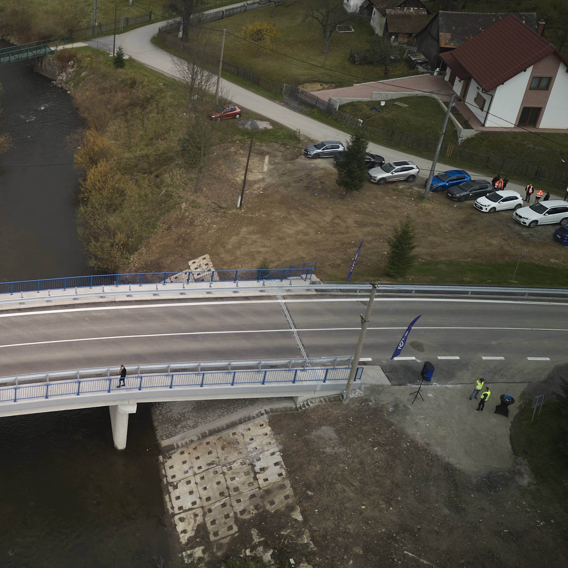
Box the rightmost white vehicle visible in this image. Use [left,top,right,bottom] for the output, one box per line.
[513,199,568,228]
